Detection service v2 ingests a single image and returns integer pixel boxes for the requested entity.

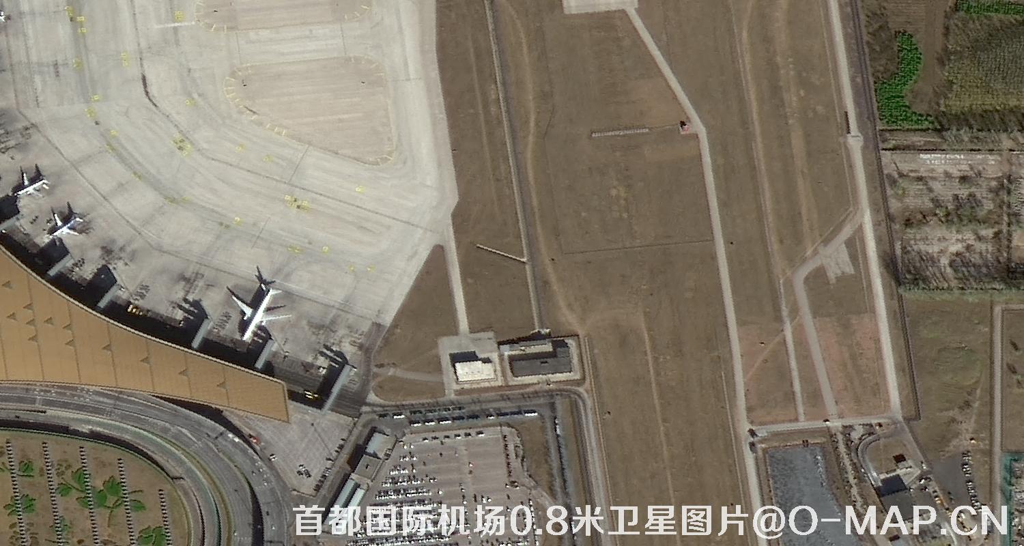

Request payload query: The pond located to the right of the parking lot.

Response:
[767,445,853,546]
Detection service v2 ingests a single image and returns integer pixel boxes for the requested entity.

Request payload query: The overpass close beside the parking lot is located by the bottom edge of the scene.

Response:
[0,383,287,546]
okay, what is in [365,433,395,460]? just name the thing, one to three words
building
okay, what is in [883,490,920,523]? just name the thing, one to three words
building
